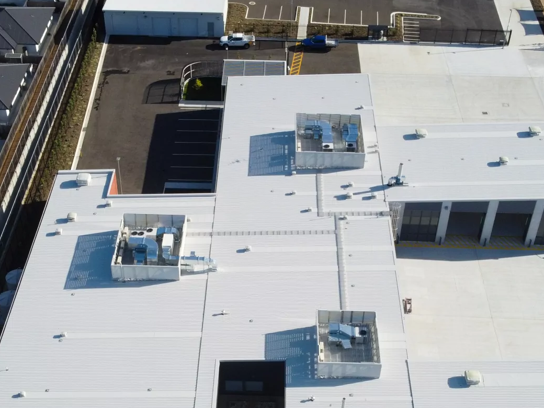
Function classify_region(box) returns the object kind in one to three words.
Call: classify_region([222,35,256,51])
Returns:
vehicle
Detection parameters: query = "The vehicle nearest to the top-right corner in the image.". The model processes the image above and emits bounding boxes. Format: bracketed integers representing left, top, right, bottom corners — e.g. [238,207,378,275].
[302,36,338,51]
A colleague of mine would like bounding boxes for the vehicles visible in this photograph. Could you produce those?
[302,36,338,51]
[222,35,256,51]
